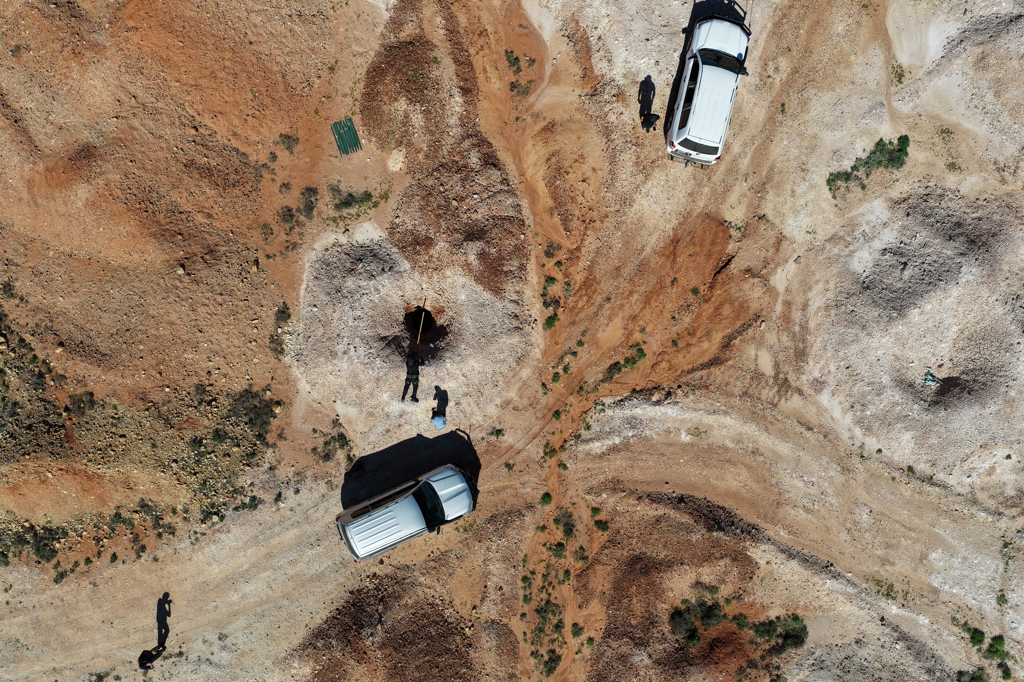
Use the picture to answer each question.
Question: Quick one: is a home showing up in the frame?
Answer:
No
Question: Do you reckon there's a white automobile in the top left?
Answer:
No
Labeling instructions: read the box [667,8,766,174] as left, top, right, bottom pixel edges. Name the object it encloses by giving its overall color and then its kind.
white car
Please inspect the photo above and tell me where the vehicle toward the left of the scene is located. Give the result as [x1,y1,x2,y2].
[332,459,480,563]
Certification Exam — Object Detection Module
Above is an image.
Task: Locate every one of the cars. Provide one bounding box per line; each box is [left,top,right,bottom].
[332,459,480,563]
[667,8,766,174]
